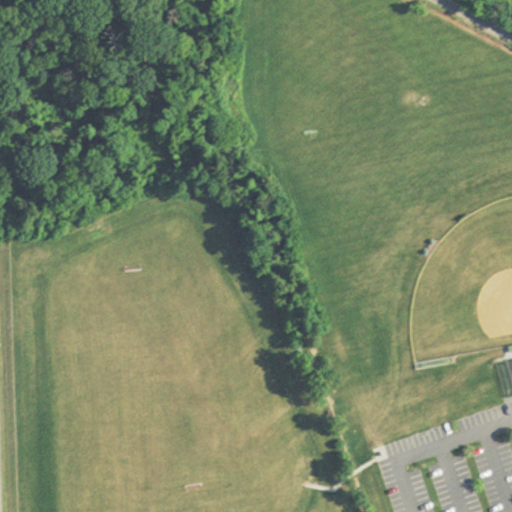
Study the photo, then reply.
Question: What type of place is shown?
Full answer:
The picture captures a sports ground.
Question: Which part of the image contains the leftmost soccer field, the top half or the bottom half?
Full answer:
Seen from above, the leftmost soccer field lies in the bottom half of the view.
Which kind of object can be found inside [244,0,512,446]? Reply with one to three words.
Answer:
sports field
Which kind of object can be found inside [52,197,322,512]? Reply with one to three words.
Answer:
soccer field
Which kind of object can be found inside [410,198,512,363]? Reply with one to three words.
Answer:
baseball field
